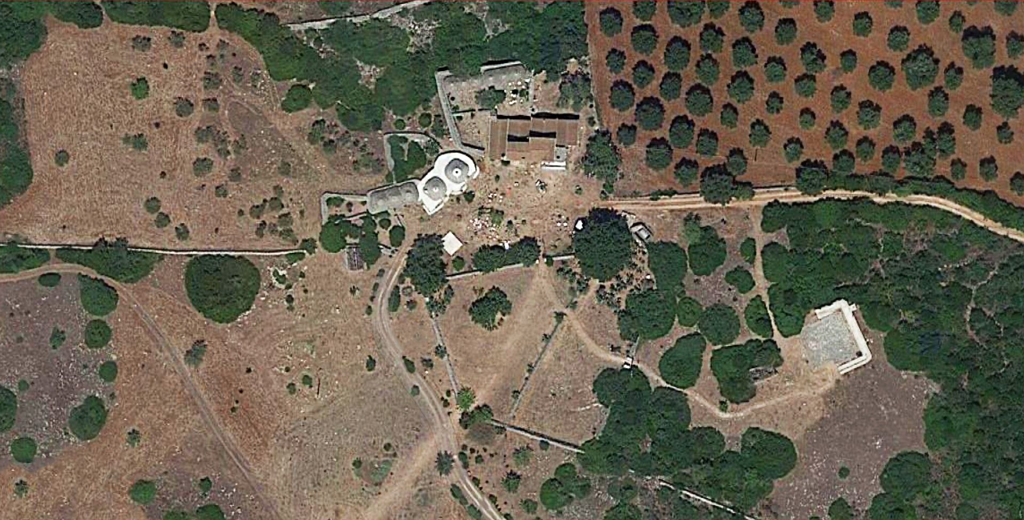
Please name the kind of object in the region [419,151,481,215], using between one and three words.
house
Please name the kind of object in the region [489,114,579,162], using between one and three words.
house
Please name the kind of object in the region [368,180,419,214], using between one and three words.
barn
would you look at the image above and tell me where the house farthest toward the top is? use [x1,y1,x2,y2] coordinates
[479,61,528,90]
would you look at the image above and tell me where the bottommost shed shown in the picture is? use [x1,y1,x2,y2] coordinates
[345,245,364,271]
